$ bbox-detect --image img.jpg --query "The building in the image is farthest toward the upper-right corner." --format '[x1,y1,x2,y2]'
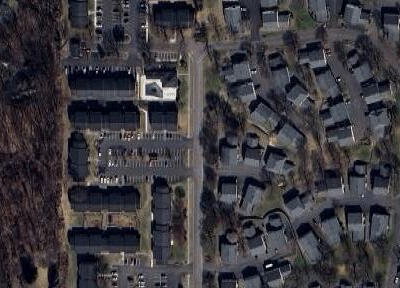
[382,15,400,43]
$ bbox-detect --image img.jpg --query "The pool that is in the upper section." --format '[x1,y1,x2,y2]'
[141,76,176,101]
